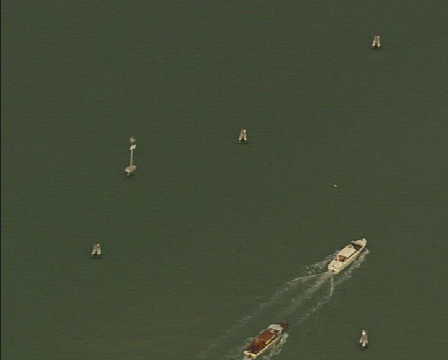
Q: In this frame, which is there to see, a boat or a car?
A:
boat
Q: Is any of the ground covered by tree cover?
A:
No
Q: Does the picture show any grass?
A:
No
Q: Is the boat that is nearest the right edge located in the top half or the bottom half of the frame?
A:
bottom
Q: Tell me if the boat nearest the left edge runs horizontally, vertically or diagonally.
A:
diagonally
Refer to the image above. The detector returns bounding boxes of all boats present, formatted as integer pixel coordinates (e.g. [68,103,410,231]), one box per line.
[325,237,367,274]
[243,322,286,359]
